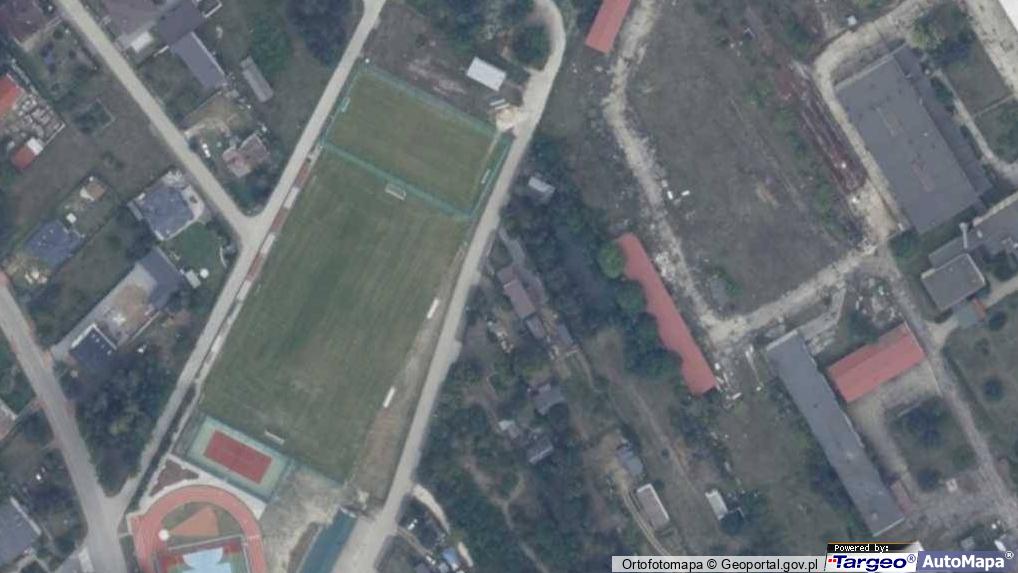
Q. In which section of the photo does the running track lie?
bottom left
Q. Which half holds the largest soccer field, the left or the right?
left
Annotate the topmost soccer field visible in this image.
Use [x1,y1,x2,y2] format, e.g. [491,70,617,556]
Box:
[326,68,503,214]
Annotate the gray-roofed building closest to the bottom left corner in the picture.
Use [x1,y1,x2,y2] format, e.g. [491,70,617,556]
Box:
[0,497,44,566]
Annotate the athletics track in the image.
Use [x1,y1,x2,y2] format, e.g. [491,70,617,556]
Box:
[130,488,266,573]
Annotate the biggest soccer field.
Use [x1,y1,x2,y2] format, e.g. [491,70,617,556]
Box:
[202,150,471,486]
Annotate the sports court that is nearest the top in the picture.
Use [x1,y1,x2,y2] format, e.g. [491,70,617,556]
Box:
[188,418,287,500]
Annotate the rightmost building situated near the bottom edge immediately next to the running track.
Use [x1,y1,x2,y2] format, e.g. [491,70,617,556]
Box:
[299,505,358,573]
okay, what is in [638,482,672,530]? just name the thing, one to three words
house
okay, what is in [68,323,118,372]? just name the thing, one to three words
house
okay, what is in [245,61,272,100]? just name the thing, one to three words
building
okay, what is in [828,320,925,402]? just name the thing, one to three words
barn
